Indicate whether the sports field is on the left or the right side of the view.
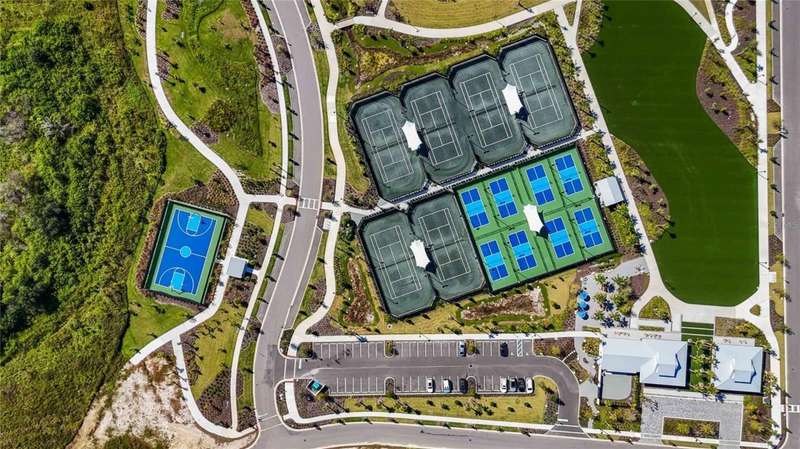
right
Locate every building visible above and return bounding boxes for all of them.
[227,256,248,278]
[602,335,688,387]
[591,176,624,205]
[714,345,764,390]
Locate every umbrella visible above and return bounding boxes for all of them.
[577,309,588,319]
[577,290,588,300]
[577,300,588,309]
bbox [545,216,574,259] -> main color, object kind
blue sports court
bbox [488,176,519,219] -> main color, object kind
blue sports court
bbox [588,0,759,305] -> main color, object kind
green sports field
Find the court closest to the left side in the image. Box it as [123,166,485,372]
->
[146,201,227,303]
